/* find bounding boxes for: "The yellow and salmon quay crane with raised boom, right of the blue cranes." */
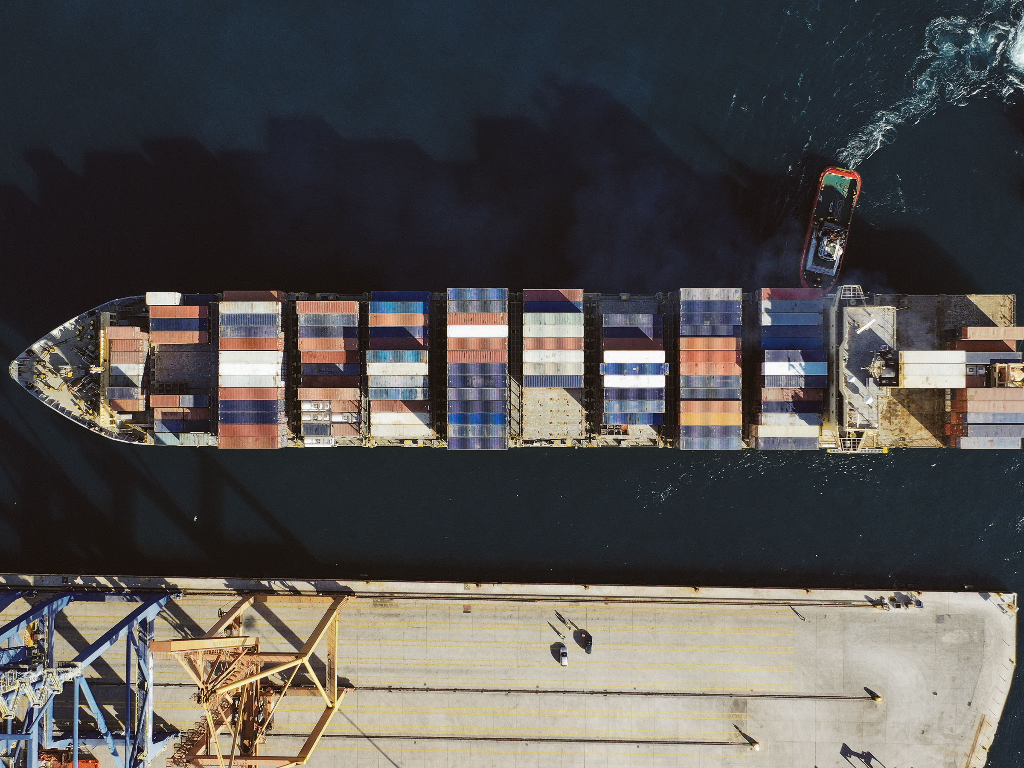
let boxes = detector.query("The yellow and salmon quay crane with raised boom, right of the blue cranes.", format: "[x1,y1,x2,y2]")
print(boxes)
[139,594,379,768]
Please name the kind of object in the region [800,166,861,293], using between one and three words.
boat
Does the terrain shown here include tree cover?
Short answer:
No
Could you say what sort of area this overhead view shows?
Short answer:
port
